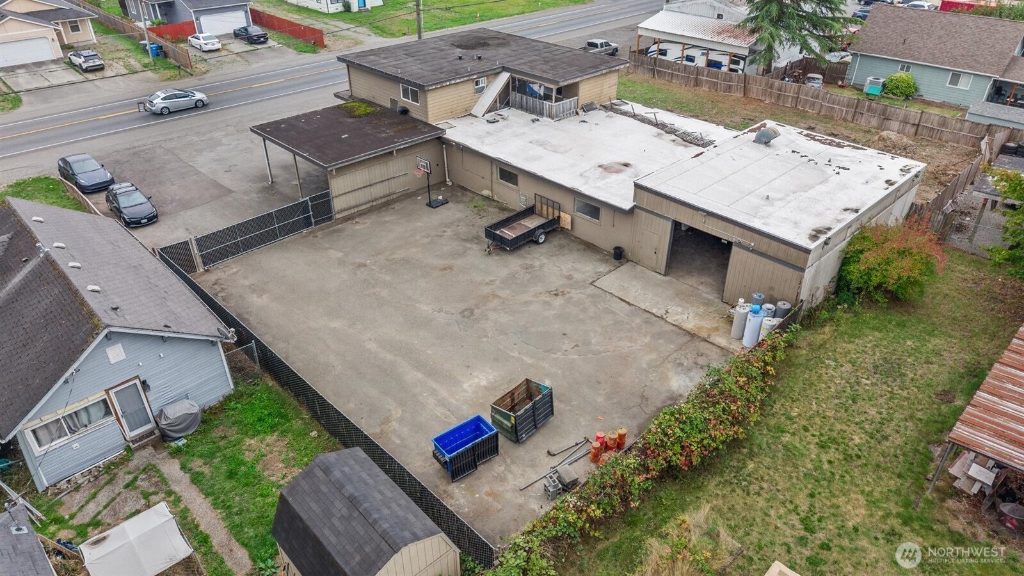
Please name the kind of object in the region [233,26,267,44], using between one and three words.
car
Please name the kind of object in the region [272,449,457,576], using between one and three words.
shed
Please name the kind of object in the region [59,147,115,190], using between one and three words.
car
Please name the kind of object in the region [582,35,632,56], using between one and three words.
truck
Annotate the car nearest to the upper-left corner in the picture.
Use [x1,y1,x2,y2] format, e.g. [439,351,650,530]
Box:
[69,48,103,71]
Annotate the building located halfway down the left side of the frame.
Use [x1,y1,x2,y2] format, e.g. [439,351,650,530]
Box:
[0,197,236,490]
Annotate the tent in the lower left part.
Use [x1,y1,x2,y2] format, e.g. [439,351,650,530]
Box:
[78,502,206,576]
